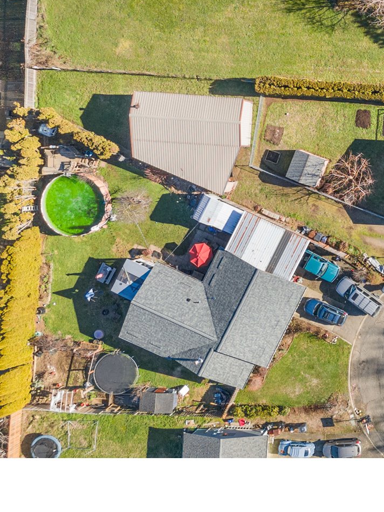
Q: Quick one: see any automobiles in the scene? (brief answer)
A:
Yes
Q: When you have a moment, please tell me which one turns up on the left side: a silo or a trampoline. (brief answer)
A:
trampoline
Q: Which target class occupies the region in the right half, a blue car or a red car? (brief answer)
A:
blue car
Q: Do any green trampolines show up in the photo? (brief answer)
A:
No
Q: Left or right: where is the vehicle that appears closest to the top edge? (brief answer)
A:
right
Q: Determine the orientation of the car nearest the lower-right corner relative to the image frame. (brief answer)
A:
from side to side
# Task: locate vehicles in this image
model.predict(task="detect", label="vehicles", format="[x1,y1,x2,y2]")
[334,275,384,318]
[277,437,317,460]
[319,437,365,460]
[303,297,350,325]
[298,248,343,284]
